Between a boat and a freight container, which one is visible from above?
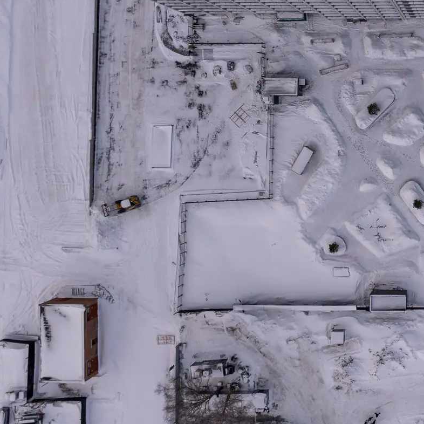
freight container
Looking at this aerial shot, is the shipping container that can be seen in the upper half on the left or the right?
right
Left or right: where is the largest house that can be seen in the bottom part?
left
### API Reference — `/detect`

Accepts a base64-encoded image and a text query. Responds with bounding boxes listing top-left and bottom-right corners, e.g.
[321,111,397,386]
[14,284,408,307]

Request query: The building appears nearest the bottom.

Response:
[250,388,270,409]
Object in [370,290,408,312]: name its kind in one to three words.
building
